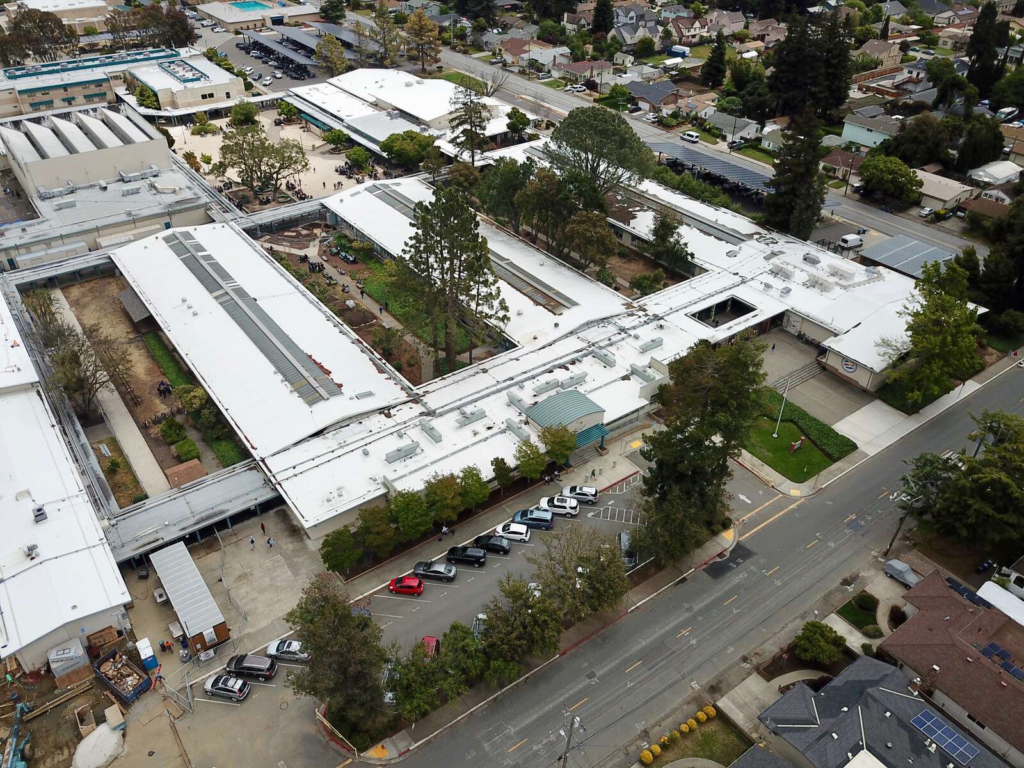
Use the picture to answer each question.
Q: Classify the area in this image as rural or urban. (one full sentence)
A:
It looks urban.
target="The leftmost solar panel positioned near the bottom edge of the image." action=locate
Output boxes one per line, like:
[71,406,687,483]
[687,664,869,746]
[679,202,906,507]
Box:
[910,709,980,766]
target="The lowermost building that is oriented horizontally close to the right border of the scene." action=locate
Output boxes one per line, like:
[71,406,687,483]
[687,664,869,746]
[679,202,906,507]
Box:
[756,655,1005,768]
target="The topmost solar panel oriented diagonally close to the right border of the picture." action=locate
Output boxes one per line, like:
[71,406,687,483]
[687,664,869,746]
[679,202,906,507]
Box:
[946,576,993,609]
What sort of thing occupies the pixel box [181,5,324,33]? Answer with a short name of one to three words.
building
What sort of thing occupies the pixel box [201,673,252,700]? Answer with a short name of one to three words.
car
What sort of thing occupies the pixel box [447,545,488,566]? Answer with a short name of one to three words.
car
